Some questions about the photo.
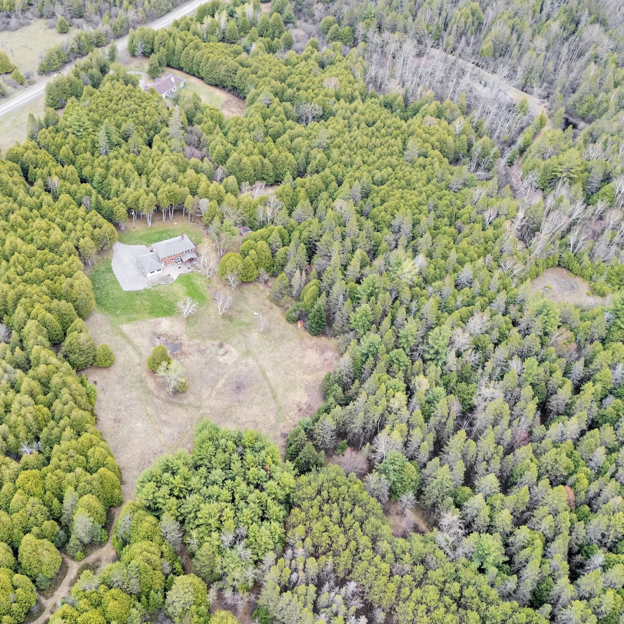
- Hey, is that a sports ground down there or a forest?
forest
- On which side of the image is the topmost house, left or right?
left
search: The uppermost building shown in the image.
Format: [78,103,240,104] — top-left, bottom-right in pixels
[141,73,185,100]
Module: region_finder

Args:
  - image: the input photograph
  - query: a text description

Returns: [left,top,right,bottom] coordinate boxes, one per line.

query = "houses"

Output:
[140,233,199,281]
[141,73,185,100]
